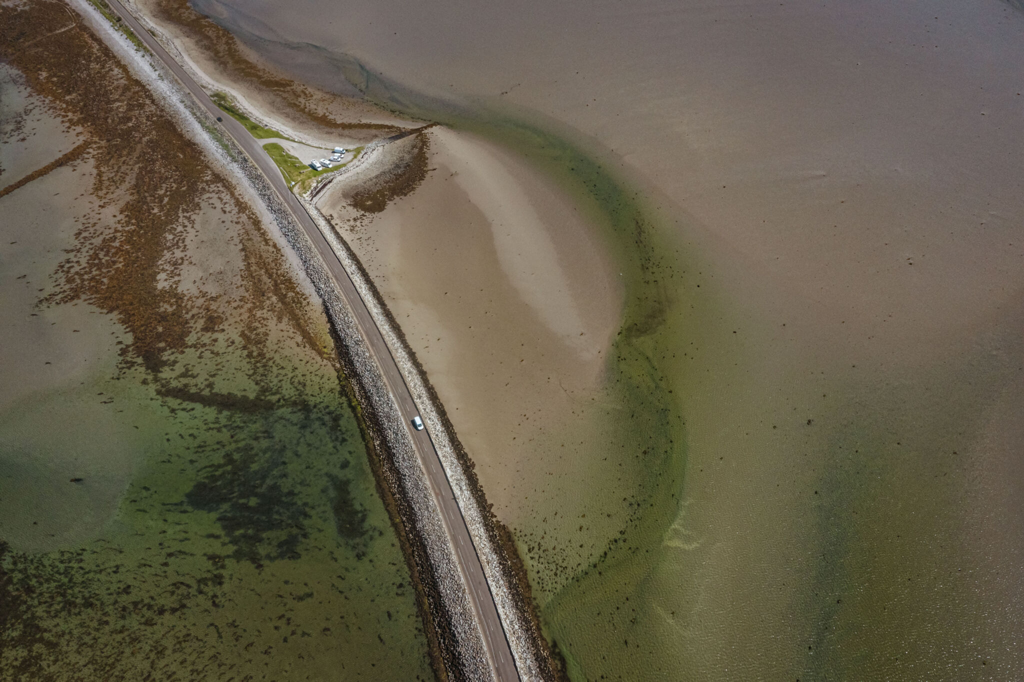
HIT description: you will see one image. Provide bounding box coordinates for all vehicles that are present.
[311,159,321,170]
[335,153,344,158]
[414,416,423,430]
[330,156,340,161]
[319,159,332,168]
[334,147,345,154]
